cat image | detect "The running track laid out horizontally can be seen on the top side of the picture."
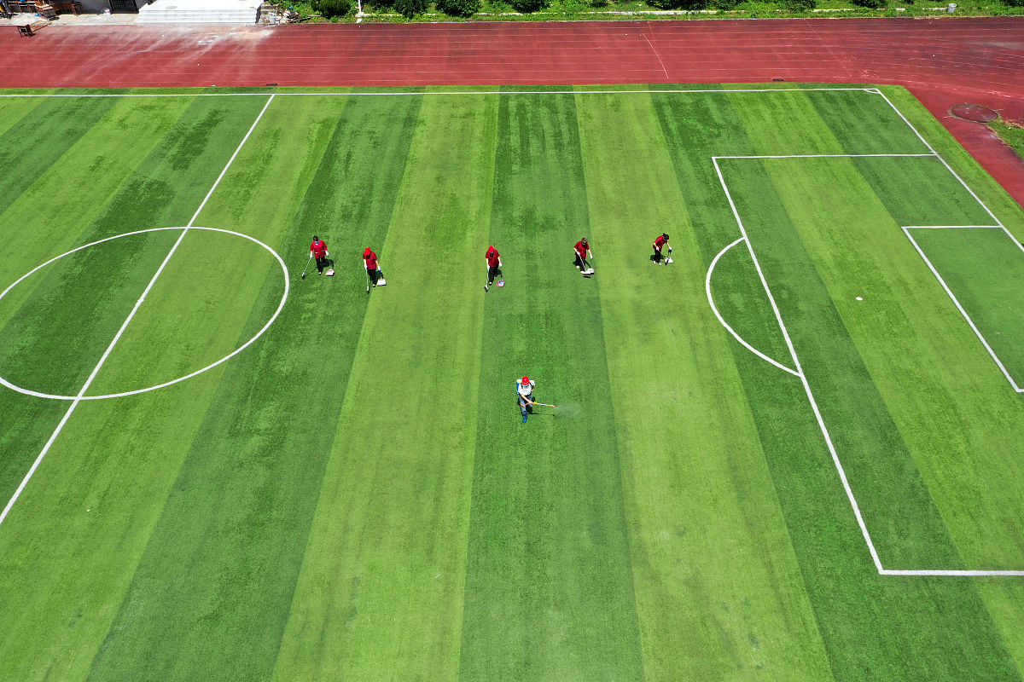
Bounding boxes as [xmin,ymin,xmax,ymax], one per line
[0,15,1024,210]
